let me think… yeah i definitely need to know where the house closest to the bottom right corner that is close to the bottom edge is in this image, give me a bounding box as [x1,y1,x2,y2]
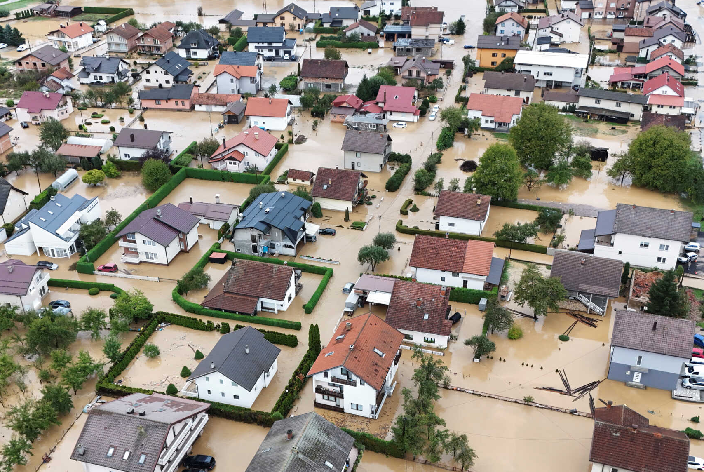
[588,400,691,472]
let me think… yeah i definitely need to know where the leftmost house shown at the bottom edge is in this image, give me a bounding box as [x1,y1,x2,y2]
[69,390,212,472]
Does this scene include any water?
Yes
